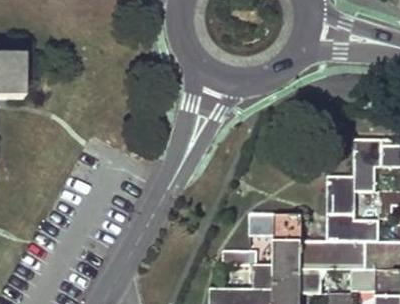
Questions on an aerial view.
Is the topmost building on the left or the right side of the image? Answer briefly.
left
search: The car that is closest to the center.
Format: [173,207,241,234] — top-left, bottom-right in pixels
[122,182,140,197]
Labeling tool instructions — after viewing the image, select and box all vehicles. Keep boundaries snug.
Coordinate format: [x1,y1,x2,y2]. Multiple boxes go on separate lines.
[28,244,45,258]
[50,212,68,226]
[122,182,140,197]
[2,286,22,302]
[69,274,86,288]
[108,209,126,223]
[61,282,80,298]
[68,178,91,195]
[274,60,293,72]
[36,233,54,248]
[84,253,102,267]
[15,266,33,280]
[22,256,40,268]
[102,220,120,234]
[96,232,114,246]
[56,202,74,215]
[375,30,394,41]
[62,190,80,204]
[0,298,11,304]
[40,222,59,236]
[8,276,28,290]
[78,263,98,278]
[79,153,97,166]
